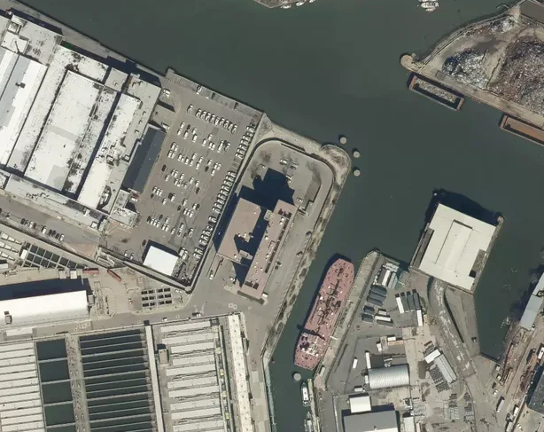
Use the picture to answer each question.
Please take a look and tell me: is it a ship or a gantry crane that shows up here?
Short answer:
ship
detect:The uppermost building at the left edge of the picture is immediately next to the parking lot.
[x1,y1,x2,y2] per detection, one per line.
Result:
[0,17,161,232]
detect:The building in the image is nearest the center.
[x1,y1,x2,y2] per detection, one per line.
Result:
[217,197,298,301]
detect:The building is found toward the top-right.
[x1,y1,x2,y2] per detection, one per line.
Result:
[519,1,544,24]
